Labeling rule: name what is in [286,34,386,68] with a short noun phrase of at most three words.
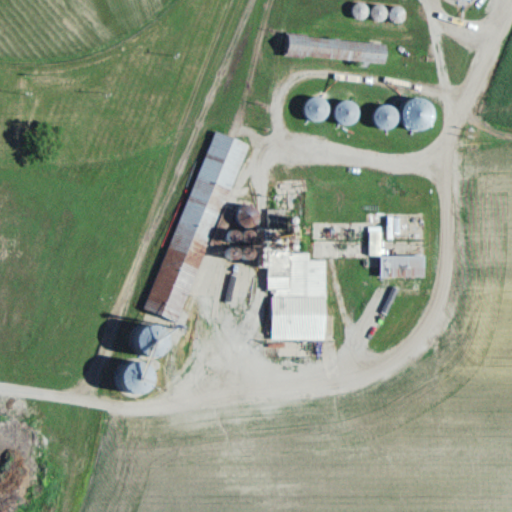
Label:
barn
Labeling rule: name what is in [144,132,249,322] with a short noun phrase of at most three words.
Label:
shed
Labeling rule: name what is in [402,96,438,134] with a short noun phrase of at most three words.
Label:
silo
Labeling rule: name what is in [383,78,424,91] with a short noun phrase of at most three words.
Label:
vehicle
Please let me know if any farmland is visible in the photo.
Yes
